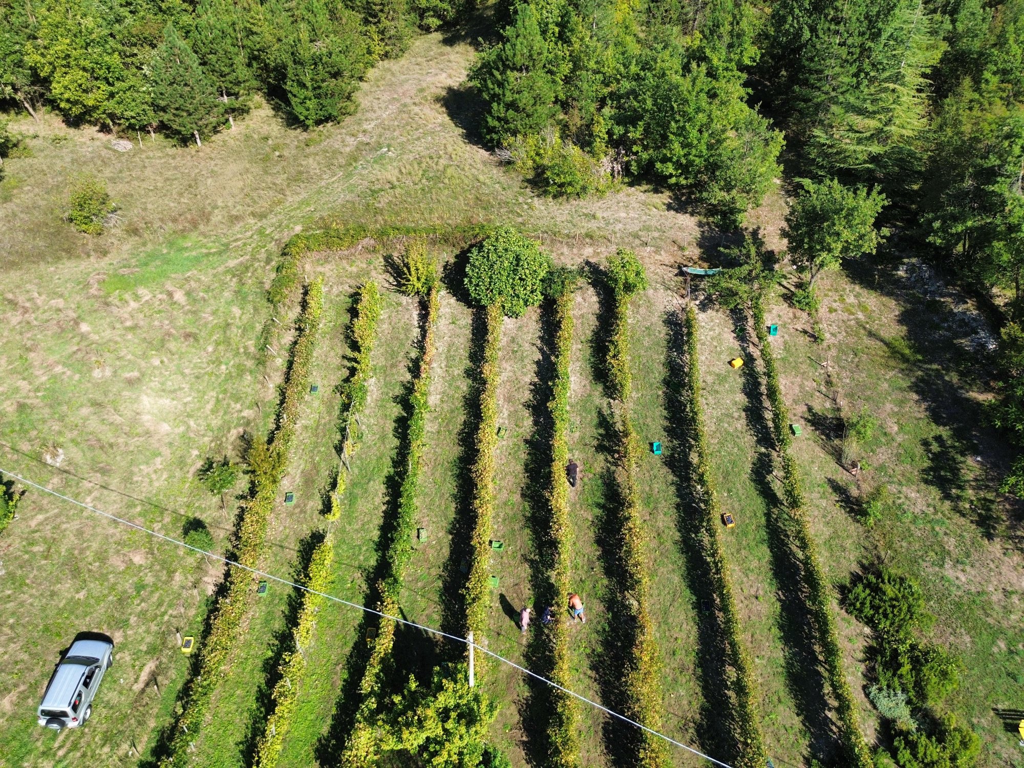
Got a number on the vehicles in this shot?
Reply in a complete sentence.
Just 1 vehicle appears in this view.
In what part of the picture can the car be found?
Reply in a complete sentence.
The car sits in the bottom left section of the image.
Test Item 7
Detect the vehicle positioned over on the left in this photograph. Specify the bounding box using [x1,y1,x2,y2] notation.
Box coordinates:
[33,643,112,733]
